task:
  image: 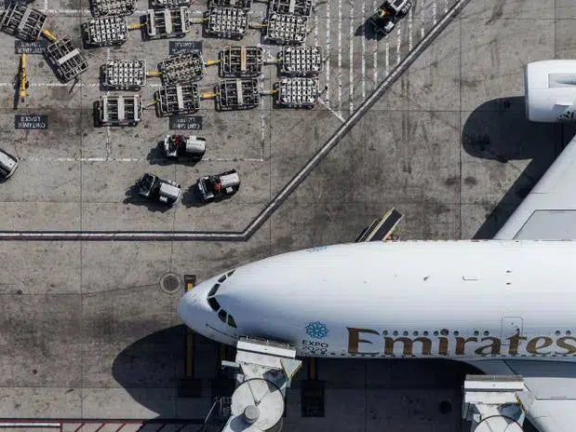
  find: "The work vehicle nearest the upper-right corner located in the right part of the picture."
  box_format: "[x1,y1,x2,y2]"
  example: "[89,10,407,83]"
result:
[371,0,412,35]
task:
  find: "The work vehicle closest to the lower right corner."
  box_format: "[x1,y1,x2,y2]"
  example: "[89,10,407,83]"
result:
[346,206,405,245]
